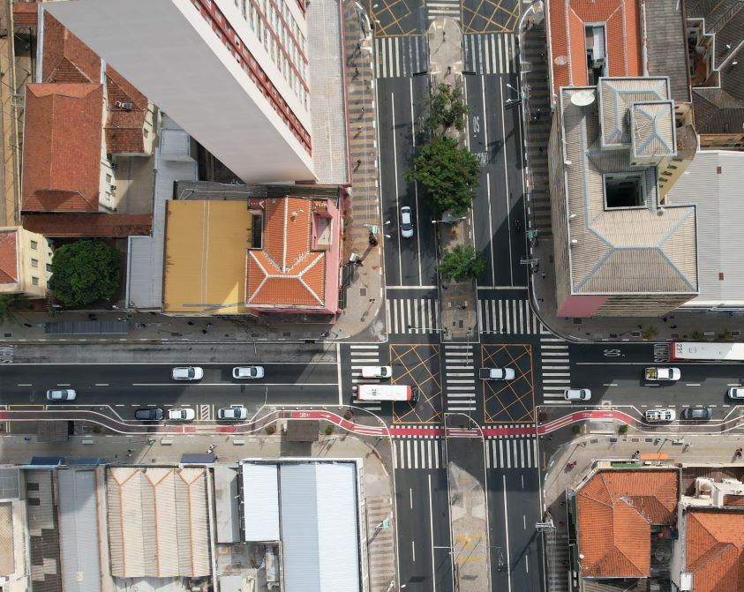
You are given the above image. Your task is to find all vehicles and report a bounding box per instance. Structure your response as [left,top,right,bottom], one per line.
[479,366,515,380]
[233,366,265,379]
[47,387,78,401]
[644,367,679,381]
[358,382,420,403]
[172,366,205,380]
[683,407,712,420]
[135,407,165,420]
[399,206,413,238]
[563,387,591,401]
[645,407,675,422]
[218,407,249,420]
[726,387,744,399]
[362,365,393,379]
[167,407,196,420]
[667,342,744,361]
